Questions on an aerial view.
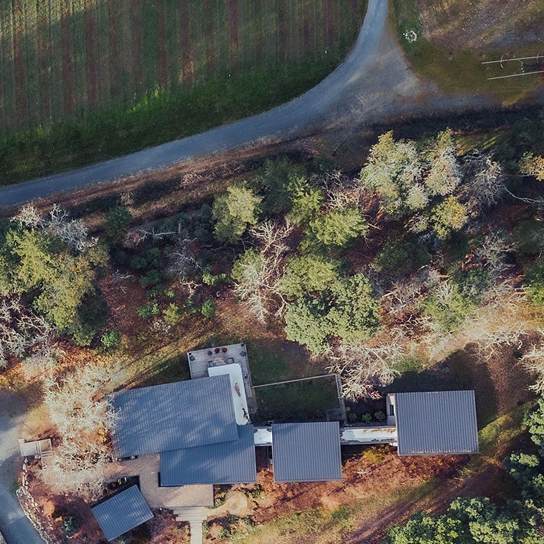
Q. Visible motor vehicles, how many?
none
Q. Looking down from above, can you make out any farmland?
Yes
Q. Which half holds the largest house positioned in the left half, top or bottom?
bottom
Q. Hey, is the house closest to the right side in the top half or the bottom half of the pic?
bottom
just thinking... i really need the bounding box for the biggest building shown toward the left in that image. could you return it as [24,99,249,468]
[111,362,256,486]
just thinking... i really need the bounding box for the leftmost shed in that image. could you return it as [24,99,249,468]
[91,484,153,542]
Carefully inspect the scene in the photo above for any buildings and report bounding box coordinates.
[91,484,153,542]
[269,421,342,483]
[388,390,478,457]
[111,362,256,486]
